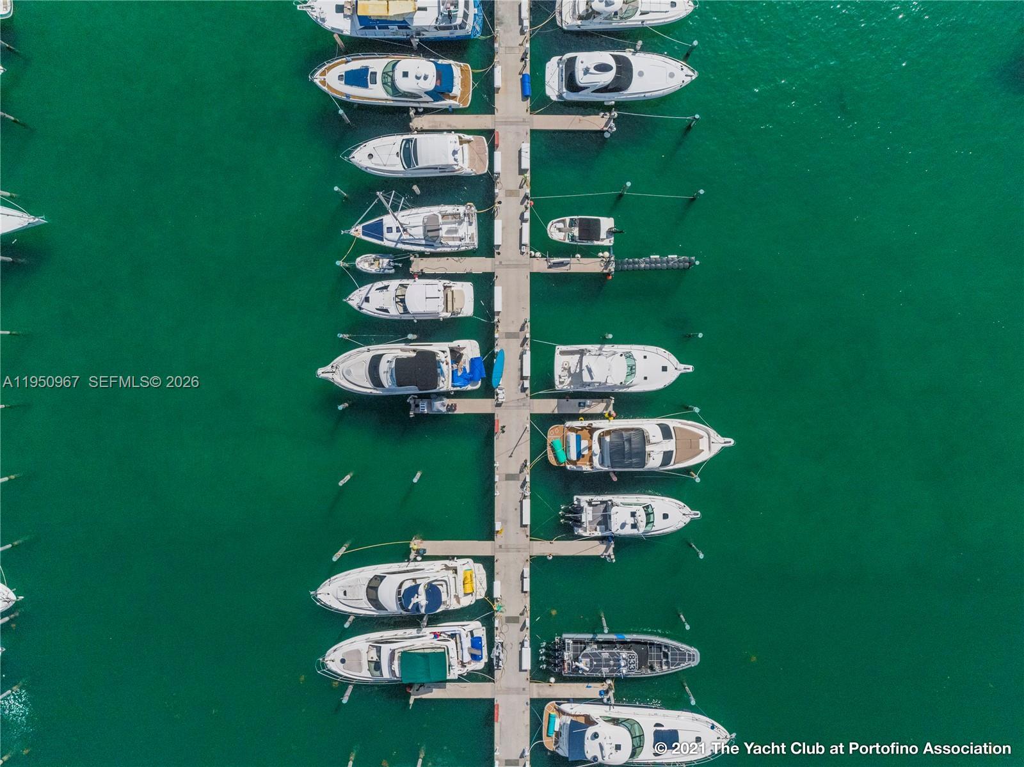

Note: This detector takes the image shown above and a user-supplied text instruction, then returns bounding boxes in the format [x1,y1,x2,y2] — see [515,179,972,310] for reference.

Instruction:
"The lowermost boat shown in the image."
[529,698,736,767]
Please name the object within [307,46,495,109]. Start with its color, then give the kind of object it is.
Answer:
white boat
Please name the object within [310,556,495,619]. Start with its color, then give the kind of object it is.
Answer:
white boat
